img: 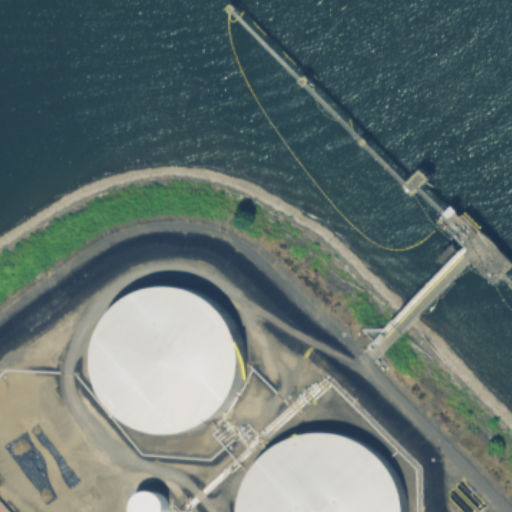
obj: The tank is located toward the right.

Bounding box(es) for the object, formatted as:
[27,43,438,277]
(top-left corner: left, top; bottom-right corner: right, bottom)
[238,430,412,512]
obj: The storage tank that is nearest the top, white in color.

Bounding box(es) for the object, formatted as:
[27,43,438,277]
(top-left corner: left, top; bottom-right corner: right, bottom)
[88,285,247,438]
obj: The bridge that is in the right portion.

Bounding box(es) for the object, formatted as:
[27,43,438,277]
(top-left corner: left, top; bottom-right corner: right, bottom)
[362,246,476,358]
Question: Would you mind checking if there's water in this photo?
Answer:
Yes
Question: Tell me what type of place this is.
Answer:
industrial area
